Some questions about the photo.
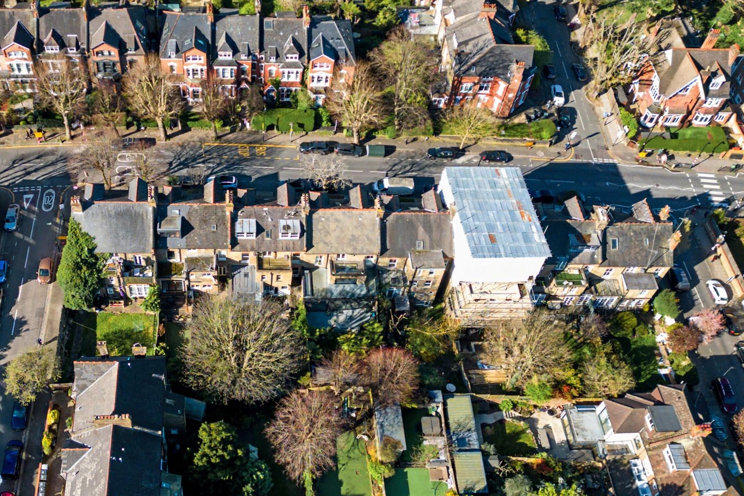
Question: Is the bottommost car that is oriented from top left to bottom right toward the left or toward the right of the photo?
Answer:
right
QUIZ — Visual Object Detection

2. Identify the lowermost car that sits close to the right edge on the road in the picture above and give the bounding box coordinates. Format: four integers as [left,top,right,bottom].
[702,375,744,417]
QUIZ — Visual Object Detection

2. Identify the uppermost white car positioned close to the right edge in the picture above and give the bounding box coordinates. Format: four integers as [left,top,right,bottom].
[701,278,736,307]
